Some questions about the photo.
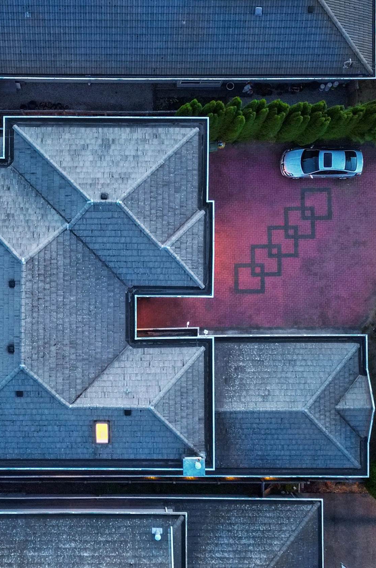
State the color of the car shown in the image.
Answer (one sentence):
In this view, the car is blue.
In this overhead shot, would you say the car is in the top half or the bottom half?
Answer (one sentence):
The car is in the top half of the image.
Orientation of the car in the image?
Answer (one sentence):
The car is oriented from left to right.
